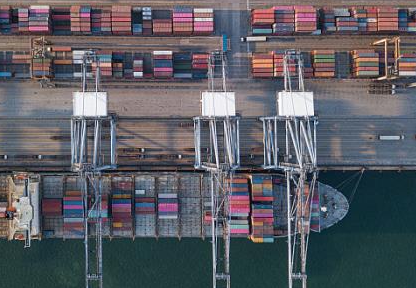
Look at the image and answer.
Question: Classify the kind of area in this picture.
port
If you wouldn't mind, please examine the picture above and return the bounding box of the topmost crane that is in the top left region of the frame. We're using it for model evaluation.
[30,38,58,83]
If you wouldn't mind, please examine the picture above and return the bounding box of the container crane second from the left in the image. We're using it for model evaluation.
[70,51,120,288]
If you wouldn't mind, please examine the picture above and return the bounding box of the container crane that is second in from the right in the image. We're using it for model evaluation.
[264,51,321,288]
